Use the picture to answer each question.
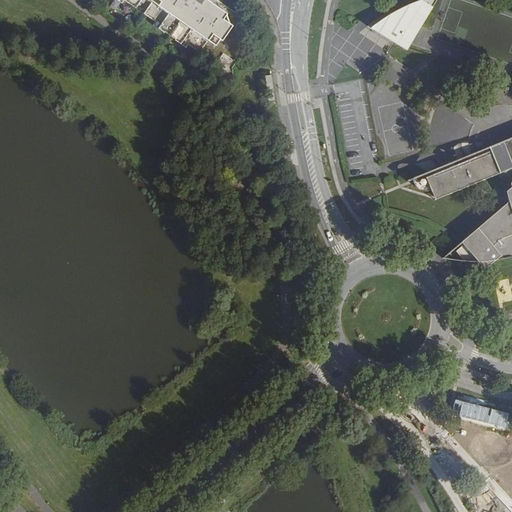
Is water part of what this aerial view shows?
Yes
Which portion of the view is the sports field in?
top right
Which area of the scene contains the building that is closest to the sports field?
top right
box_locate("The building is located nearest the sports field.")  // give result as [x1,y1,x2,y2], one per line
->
[370,0,434,50]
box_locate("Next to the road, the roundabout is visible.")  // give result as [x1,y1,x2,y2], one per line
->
[327,257,448,381]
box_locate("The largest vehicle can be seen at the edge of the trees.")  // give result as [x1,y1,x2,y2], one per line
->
[408,412,426,430]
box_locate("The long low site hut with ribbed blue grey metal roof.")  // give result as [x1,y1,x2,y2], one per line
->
[454,400,509,430]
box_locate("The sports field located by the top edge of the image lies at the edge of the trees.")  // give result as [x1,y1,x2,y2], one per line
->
[437,0,512,66]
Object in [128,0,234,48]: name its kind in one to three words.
building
